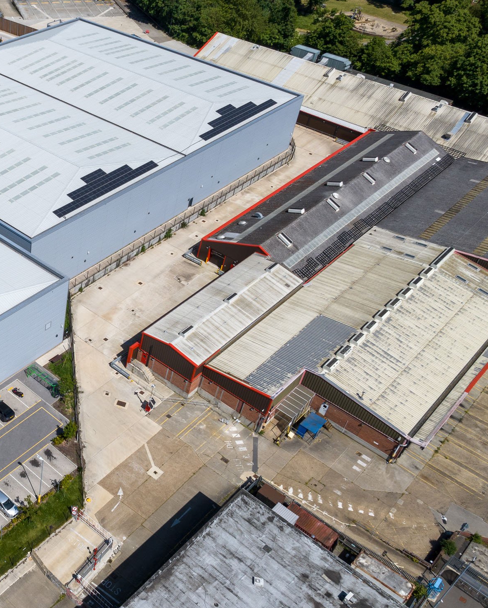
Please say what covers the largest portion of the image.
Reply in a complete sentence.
What you mostly see from above here is buildings.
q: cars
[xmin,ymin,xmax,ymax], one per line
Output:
[0,487,18,520]
[0,399,13,424]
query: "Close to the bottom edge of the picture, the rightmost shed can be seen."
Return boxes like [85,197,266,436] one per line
[450,541,488,607]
